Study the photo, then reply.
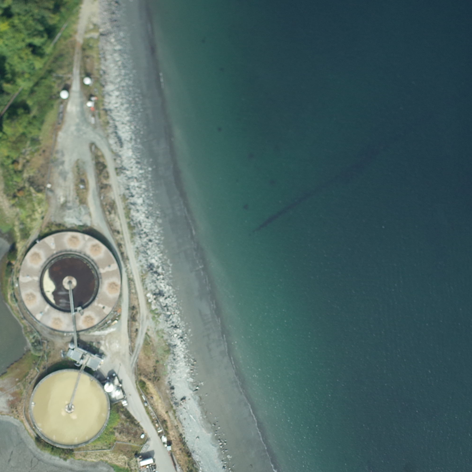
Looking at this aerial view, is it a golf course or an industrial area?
industrial area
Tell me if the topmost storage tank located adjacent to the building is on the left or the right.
left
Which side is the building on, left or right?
left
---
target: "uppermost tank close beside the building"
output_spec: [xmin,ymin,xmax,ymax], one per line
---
[19,230,121,331]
